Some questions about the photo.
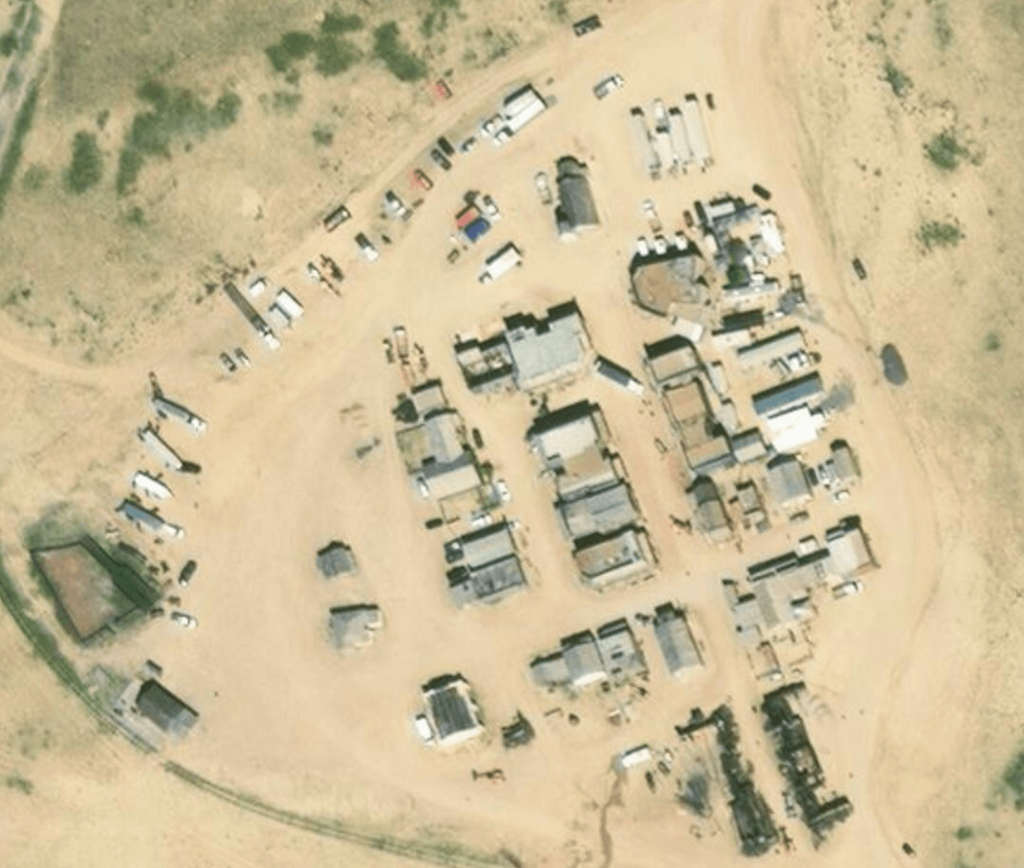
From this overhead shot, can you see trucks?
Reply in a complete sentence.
Yes, a truck is visible in the scene.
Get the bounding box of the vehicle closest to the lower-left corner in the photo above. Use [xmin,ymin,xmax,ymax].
[171,611,198,629]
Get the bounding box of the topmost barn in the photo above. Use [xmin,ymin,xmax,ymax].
[557,164,599,236]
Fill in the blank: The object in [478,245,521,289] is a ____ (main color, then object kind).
white truck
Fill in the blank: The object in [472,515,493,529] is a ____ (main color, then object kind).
white vehicle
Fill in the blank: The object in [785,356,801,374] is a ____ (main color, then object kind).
white car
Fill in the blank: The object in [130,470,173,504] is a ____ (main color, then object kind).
white camper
